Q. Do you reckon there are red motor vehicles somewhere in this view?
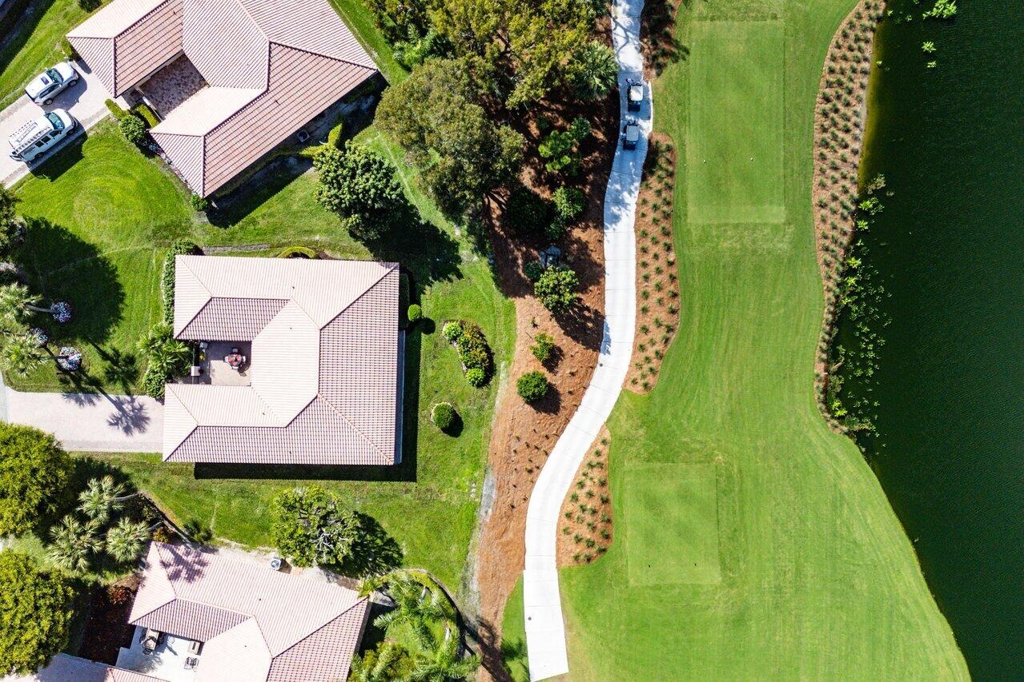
No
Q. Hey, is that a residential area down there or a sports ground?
residential area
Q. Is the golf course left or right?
right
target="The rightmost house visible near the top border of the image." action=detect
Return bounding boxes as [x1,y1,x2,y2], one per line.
[68,0,379,197]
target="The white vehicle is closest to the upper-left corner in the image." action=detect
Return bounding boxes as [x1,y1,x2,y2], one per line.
[21,57,80,104]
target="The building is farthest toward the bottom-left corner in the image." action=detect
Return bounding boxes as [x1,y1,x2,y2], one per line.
[105,539,366,682]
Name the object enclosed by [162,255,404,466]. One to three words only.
house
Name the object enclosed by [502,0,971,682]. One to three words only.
golf course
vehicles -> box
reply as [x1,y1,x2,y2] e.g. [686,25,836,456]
[625,84,643,113]
[21,57,80,104]
[622,123,639,152]
[3,104,80,163]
